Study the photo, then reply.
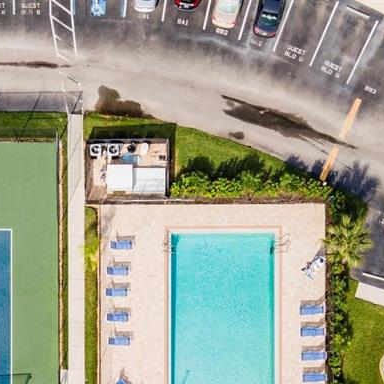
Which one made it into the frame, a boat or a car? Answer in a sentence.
It is a car that can be seen here.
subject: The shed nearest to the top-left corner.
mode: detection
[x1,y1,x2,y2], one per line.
[107,165,132,194]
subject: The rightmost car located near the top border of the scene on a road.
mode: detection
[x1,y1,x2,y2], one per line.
[258,0,290,35]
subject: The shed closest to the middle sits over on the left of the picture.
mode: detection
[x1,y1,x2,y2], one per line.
[135,168,165,194]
